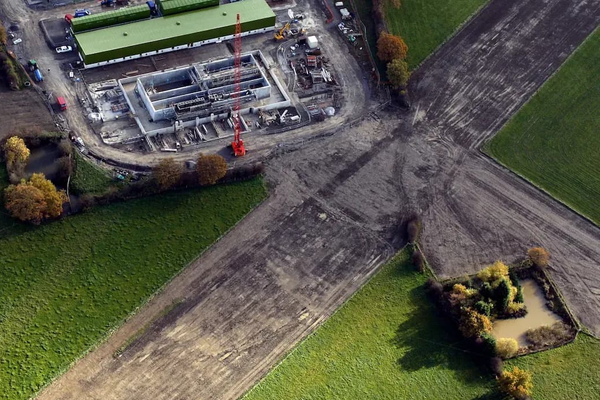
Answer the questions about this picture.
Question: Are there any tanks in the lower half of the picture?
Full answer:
No, the scene shows no tank in the lower half of the picture.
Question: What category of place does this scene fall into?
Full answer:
The picture captures farmland.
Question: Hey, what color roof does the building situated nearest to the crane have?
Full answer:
From above, the roof of the building situated nearest to the crane looks green.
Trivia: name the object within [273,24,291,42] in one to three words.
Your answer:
work vehicle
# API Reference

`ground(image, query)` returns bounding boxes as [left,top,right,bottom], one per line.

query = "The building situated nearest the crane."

[73,0,276,68]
